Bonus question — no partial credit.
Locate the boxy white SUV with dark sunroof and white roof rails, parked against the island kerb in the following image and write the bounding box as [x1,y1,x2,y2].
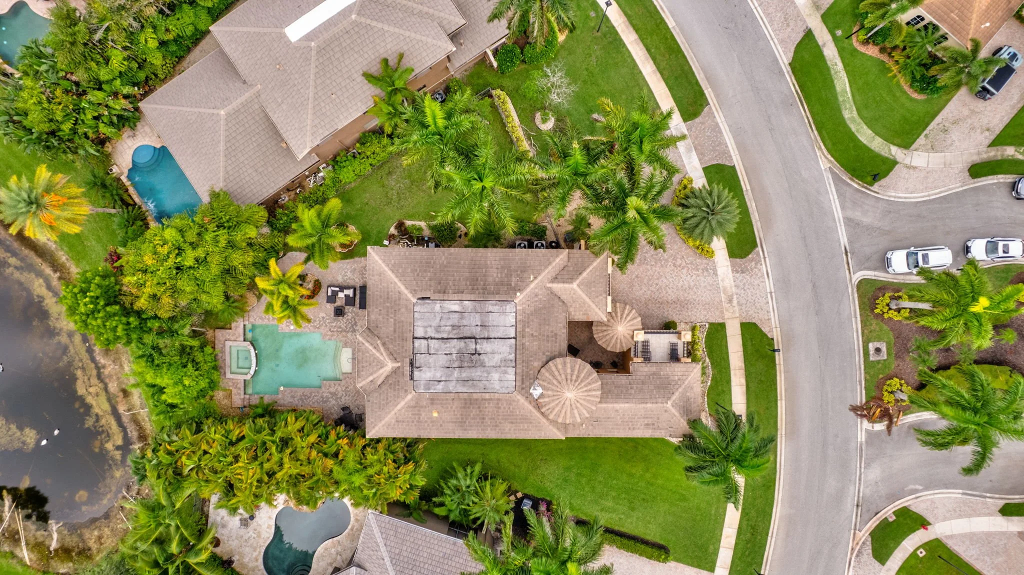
[882,246,951,275]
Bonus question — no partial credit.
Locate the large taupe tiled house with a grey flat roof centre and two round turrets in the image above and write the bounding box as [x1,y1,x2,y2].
[355,245,703,441]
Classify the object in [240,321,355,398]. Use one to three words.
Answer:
swimming pool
